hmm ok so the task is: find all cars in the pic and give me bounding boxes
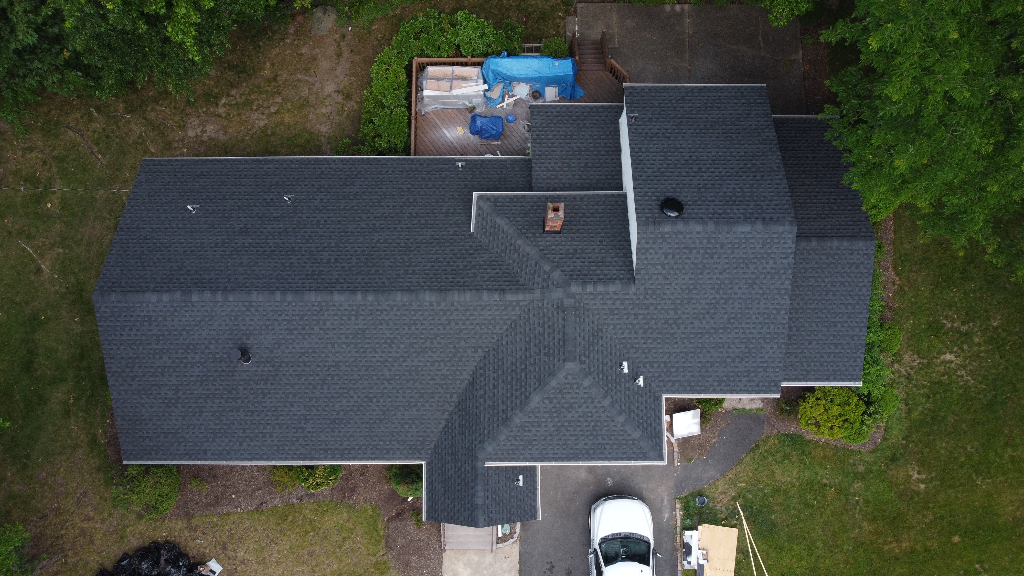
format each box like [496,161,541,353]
[584,490,664,576]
